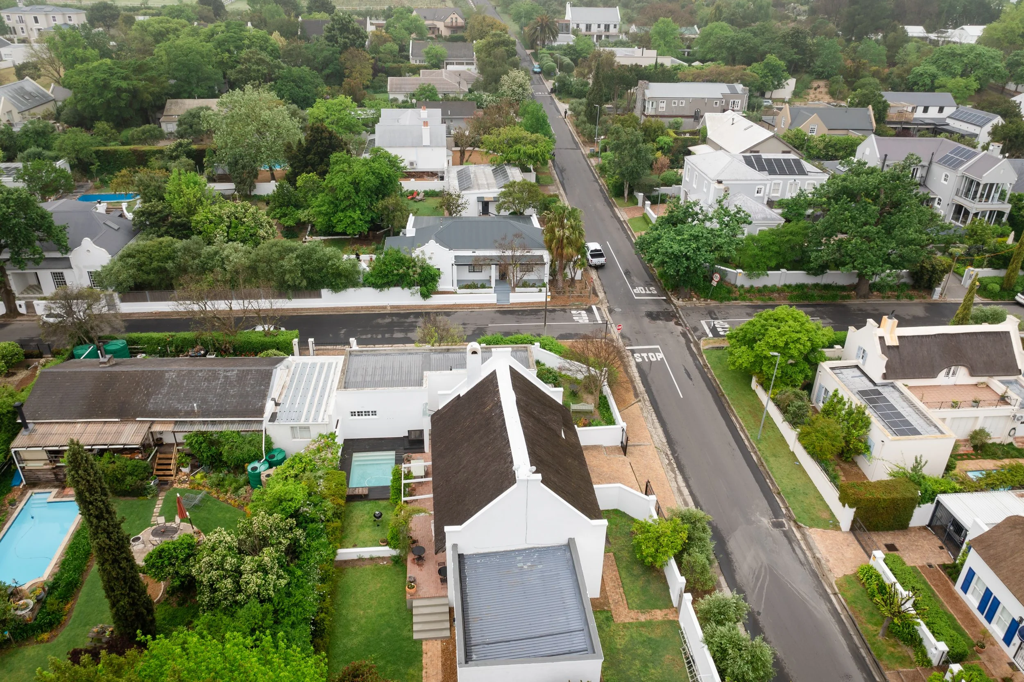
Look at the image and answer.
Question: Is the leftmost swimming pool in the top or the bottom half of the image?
bottom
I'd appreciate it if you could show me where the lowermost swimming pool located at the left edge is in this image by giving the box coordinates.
[0,488,70,597]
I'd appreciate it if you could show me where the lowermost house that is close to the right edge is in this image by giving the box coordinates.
[955,531,1024,671]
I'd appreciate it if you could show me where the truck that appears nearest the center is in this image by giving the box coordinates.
[582,238,607,263]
